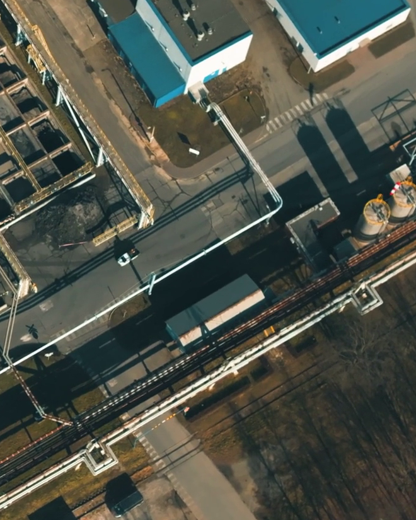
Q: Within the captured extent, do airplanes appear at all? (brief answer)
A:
No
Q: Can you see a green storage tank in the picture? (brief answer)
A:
No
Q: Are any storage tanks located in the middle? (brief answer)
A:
No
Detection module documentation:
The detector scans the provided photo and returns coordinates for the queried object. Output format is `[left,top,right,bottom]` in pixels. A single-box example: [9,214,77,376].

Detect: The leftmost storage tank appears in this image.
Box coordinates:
[353,189,395,246]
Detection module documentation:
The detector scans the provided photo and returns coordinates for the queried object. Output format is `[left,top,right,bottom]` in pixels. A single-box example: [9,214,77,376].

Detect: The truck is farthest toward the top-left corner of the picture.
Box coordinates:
[112,243,145,272]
